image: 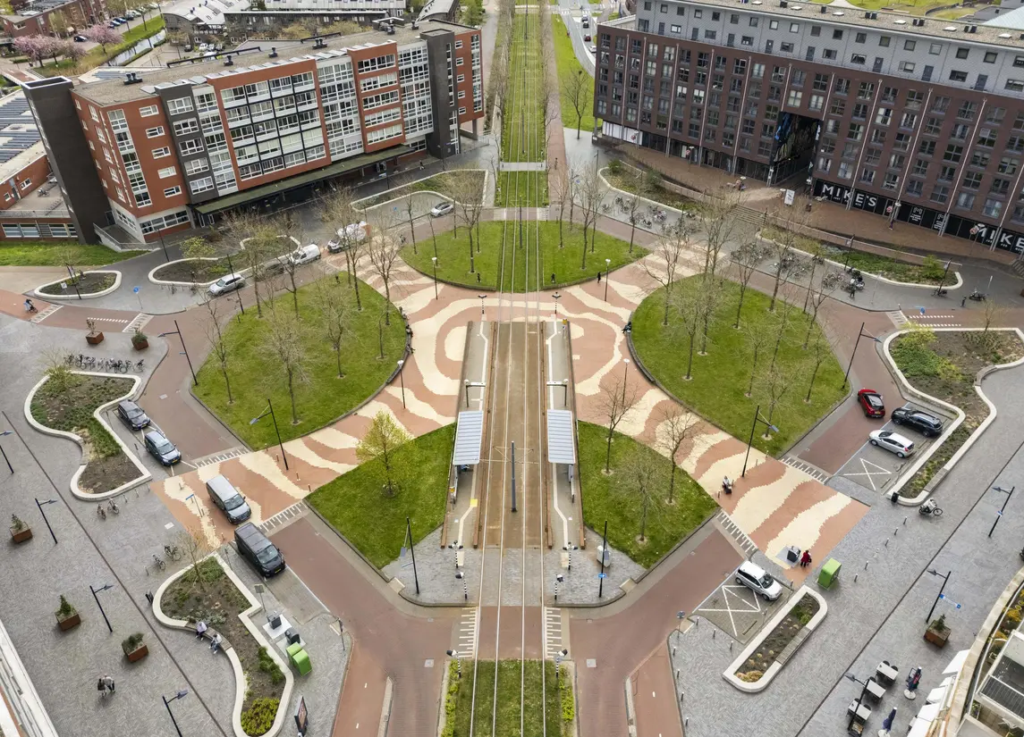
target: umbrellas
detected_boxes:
[877,713,898,737]
[906,671,927,703]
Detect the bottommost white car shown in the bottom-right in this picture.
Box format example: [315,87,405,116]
[734,555,788,603]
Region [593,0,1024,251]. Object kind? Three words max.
building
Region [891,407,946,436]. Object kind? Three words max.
car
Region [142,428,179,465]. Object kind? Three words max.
car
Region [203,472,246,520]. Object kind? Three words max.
van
